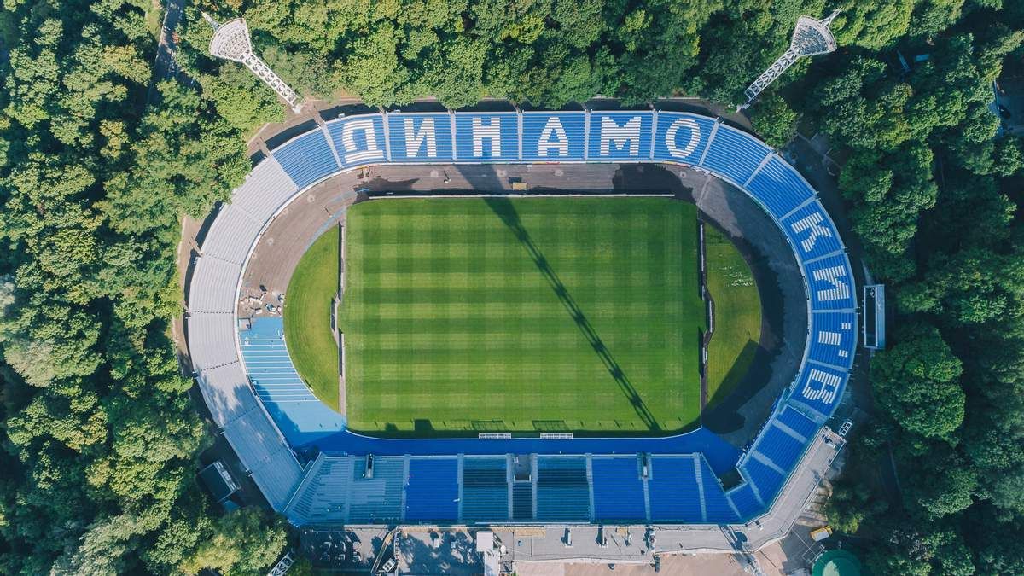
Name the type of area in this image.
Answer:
sports ground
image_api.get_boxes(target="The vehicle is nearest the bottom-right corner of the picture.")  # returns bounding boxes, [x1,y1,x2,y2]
[811,528,833,544]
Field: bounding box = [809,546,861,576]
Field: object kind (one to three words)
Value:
building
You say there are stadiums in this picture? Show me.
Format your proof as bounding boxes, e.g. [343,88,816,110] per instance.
[170,94,869,528]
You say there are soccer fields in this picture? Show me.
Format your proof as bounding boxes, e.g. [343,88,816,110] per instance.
[284,197,761,438]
